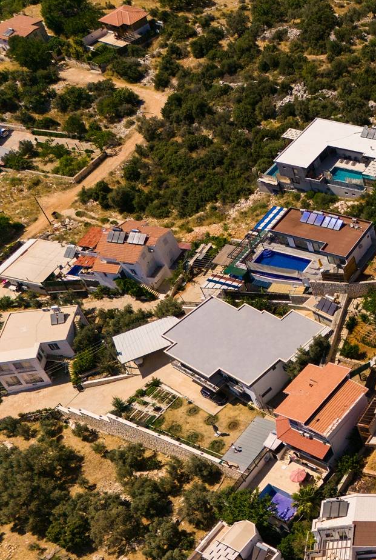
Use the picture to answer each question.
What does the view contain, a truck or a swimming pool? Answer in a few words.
swimming pool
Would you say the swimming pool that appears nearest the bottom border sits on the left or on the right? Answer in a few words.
right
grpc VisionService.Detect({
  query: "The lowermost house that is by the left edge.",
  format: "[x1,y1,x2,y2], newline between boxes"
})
[0,304,93,393]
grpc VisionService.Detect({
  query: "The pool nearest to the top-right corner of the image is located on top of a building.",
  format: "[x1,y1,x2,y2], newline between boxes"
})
[329,167,366,186]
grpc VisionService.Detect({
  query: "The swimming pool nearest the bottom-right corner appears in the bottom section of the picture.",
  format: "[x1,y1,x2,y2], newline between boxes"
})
[261,485,292,523]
